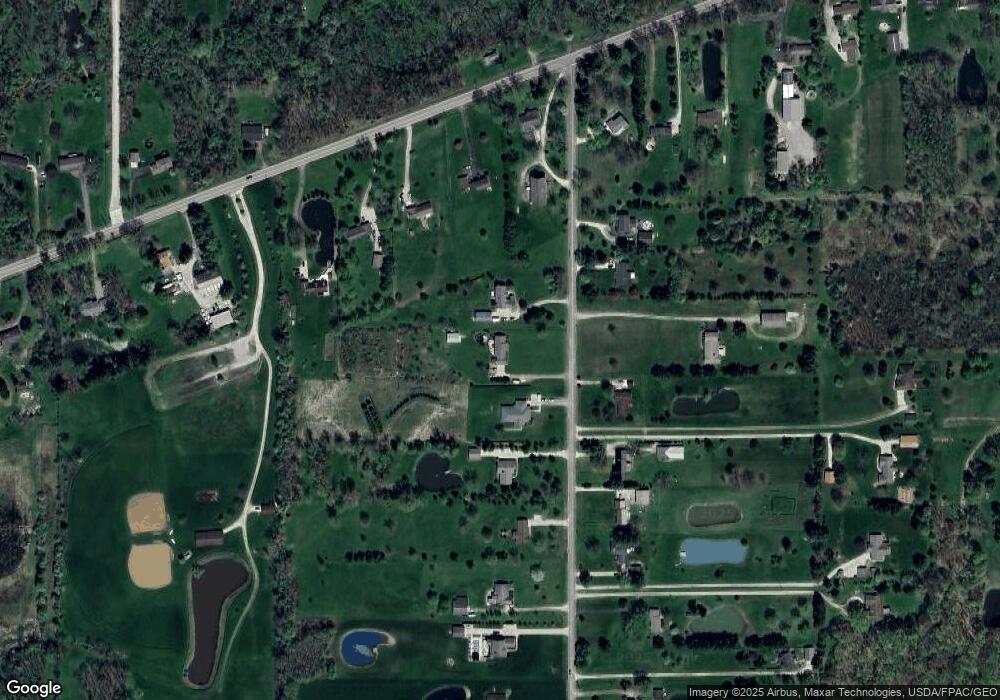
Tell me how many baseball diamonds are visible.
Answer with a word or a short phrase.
2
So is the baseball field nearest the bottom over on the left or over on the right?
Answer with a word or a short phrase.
left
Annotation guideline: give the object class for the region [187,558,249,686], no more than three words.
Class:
pond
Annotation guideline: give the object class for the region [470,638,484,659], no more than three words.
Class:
swimming pool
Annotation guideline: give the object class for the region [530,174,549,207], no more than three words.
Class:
barn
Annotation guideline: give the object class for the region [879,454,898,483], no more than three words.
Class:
house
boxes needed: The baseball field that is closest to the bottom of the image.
[70,540,178,639]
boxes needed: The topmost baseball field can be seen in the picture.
[68,427,172,540]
